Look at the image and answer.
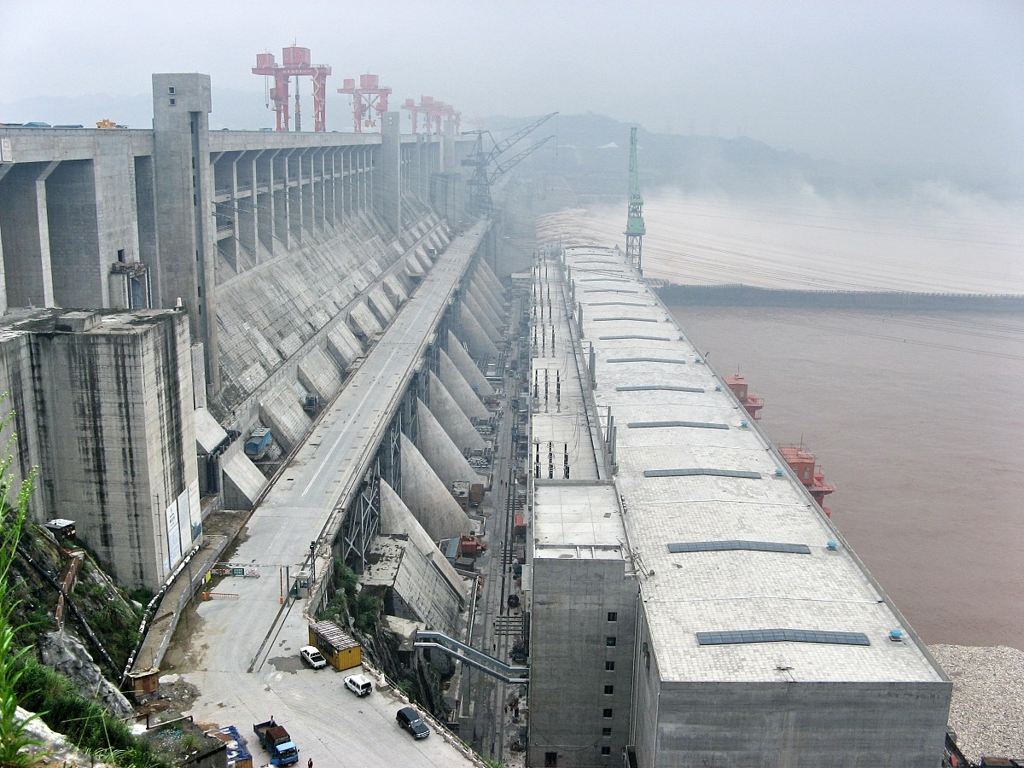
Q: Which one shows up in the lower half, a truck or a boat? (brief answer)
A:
truck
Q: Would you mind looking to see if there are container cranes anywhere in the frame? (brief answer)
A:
Yes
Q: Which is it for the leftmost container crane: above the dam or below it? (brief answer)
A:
above it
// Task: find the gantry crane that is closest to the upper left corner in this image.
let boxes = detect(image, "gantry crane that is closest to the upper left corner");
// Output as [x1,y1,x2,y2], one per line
[251,38,323,133]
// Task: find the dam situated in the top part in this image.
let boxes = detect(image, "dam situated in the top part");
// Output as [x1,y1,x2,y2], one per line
[0,126,485,454]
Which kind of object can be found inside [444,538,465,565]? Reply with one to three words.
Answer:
shed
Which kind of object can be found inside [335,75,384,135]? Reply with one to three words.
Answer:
container crane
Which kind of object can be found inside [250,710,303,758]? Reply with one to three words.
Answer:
truck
